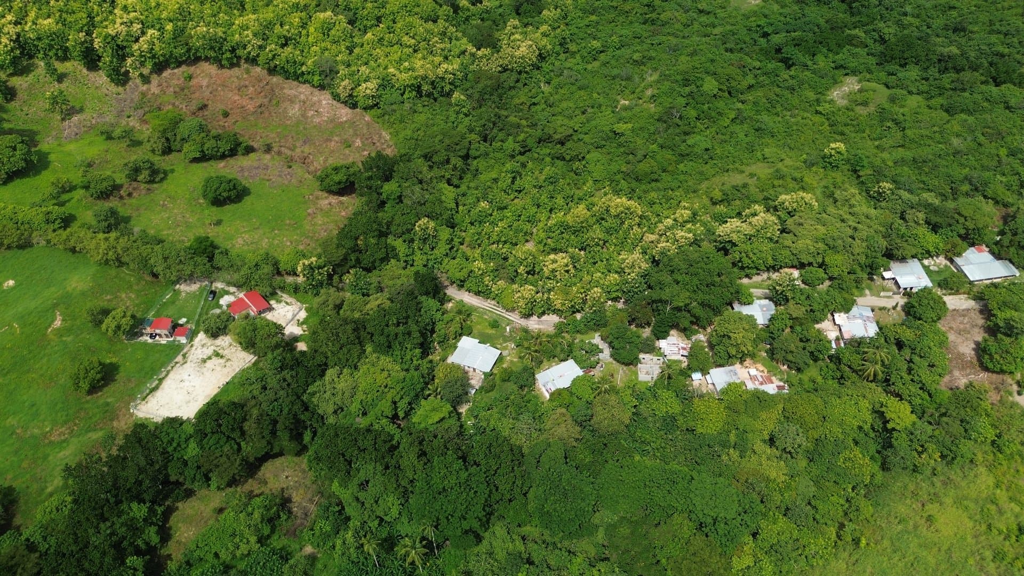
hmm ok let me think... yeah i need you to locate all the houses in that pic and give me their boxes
[229,291,272,319]
[883,259,932,293]
[659,337,690,359]
[735,299,775,326]
[536,359,583,399]
[639,358,665,382]
[833,306,879,342]
[743,375,788,396]
[141,317,176,341]
[451,336,501,377]
[709,366,742,394]
[953,245,1019,287]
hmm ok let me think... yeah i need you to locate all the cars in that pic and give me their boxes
[208,291,217,301]
[145,333,158,342]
